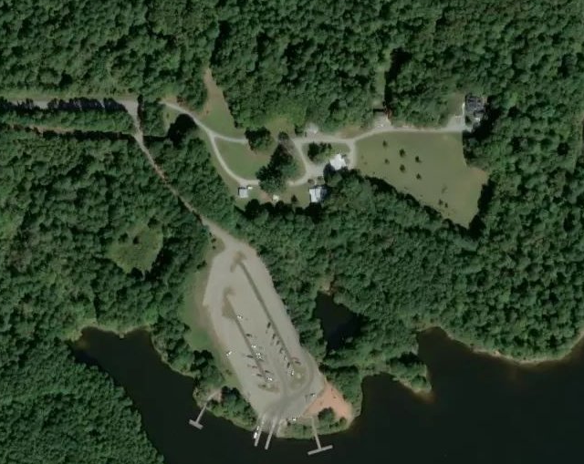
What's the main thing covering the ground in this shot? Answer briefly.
trees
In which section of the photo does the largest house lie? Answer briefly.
top right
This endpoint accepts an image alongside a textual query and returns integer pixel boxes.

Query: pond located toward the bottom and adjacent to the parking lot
[313,292,370,357]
